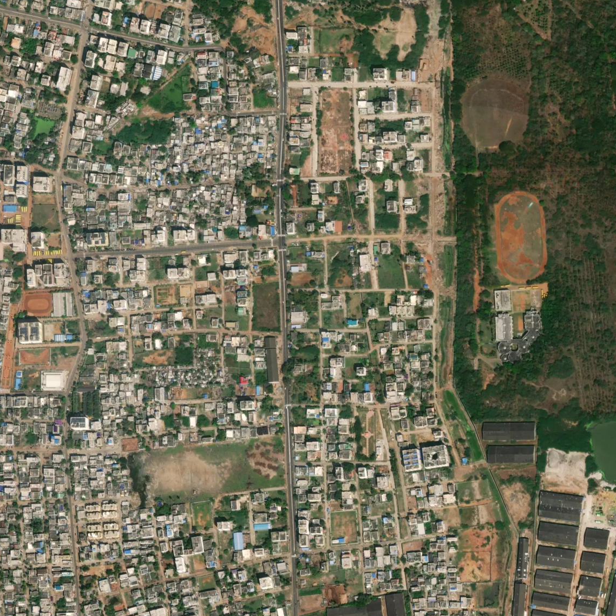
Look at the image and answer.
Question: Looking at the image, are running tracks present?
Yes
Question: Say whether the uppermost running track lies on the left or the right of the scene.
right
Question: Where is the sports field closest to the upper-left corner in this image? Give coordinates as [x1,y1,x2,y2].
[34,205,60,231]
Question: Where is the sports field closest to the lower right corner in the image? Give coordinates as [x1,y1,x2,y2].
[333,511,358,543]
